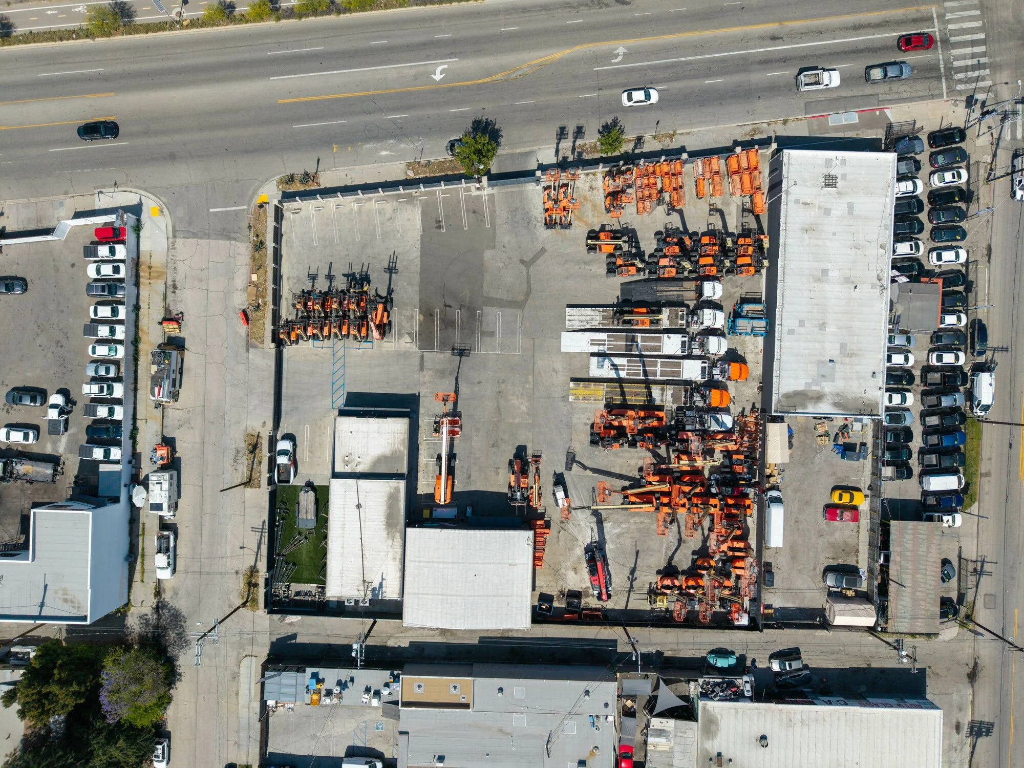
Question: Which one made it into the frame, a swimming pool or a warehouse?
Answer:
warehouse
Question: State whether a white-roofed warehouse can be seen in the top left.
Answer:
No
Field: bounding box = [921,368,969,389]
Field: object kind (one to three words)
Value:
truck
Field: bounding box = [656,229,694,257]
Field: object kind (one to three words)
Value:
work vehicle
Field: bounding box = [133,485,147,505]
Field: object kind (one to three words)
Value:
umbrella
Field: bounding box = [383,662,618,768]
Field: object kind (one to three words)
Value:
building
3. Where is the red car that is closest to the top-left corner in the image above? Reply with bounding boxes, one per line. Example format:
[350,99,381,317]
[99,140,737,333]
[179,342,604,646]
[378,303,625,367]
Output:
[89,223,122,242]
